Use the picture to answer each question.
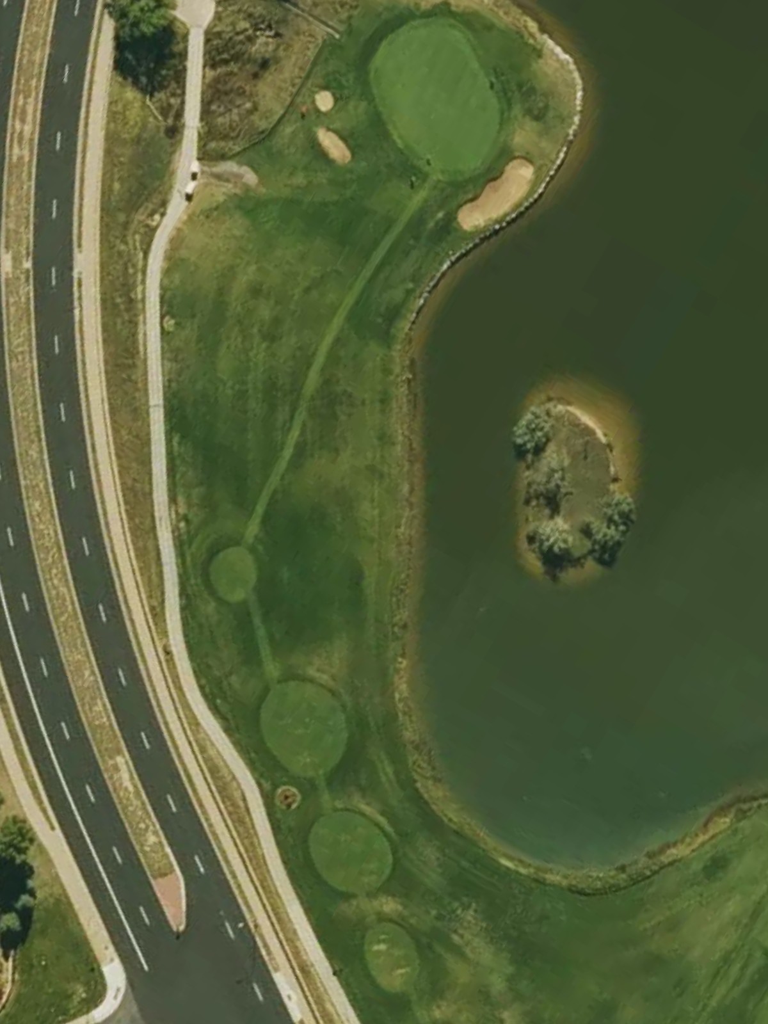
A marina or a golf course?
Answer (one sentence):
The picture captures a golf course.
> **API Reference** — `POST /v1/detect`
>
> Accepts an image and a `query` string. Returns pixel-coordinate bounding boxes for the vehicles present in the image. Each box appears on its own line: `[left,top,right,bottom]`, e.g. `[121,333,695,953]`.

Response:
[190,159,198,173]
[185,179,196,193]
